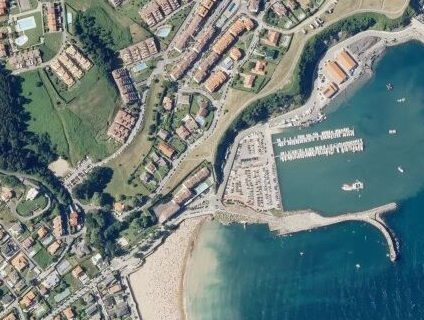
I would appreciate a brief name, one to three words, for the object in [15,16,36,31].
swimming pool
